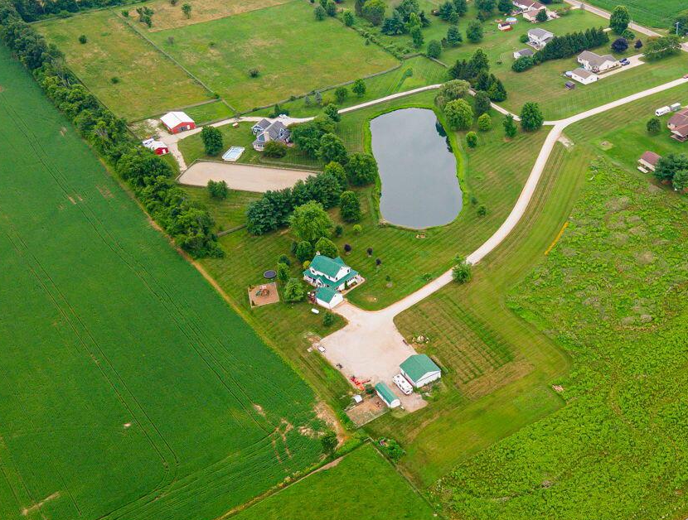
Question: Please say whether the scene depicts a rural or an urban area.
rural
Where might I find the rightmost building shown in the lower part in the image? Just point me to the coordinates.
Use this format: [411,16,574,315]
[398,353,442,389]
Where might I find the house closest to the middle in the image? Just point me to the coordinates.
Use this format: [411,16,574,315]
[297,253,360,316]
